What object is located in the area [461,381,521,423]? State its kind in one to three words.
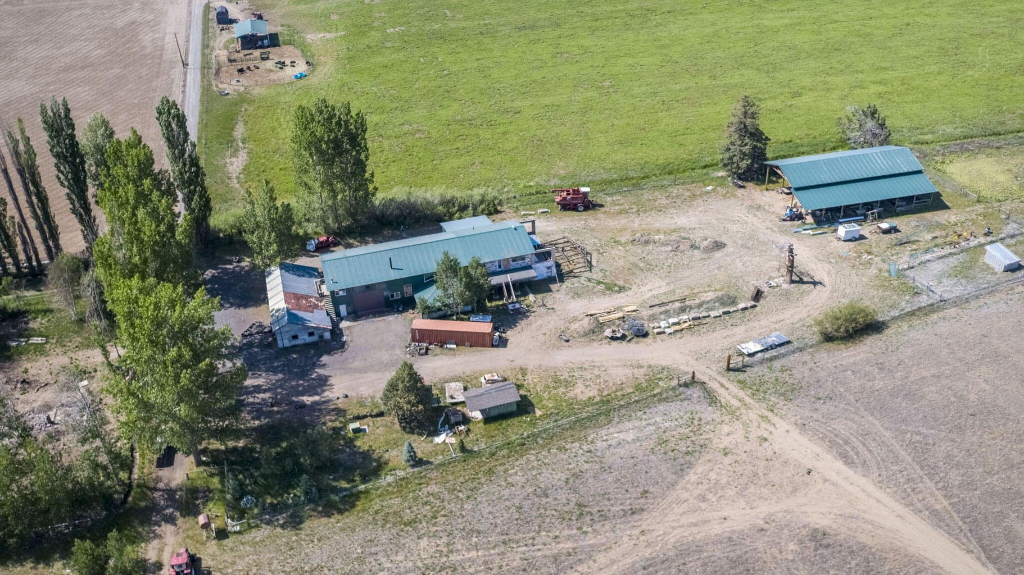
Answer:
building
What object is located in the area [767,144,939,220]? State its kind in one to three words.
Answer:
barn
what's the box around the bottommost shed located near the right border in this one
[986,241,1023,272]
